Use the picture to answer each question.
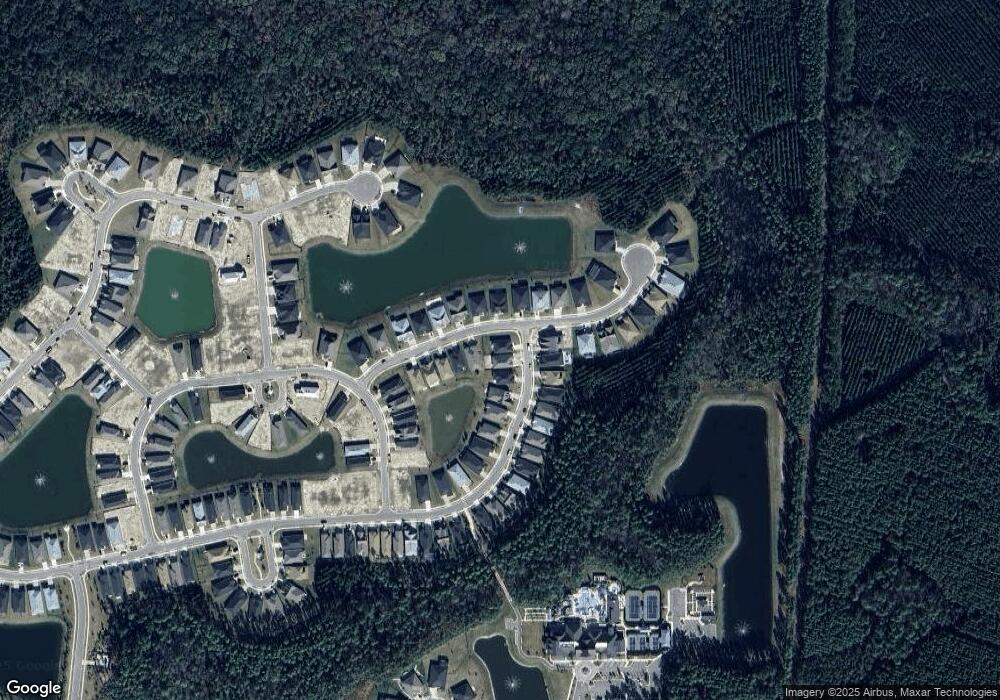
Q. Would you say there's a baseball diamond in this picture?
No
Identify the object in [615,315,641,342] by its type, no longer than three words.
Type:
house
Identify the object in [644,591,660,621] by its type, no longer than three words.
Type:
tennis court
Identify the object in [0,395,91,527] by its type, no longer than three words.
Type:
pond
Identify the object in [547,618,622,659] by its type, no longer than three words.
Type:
building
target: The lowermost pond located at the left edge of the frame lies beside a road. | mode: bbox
[0,622,61,690]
